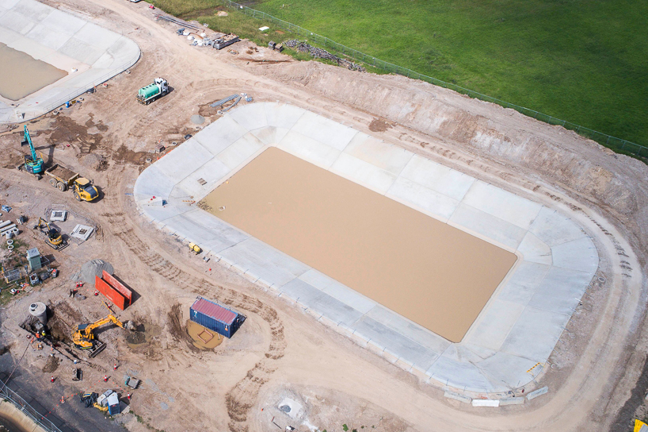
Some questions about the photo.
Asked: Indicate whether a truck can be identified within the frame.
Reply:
Yes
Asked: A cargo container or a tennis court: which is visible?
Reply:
cargo container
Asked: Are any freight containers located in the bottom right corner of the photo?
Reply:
No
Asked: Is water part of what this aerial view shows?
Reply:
Yes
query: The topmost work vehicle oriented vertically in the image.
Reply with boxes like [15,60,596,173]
[21,123,48,177]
